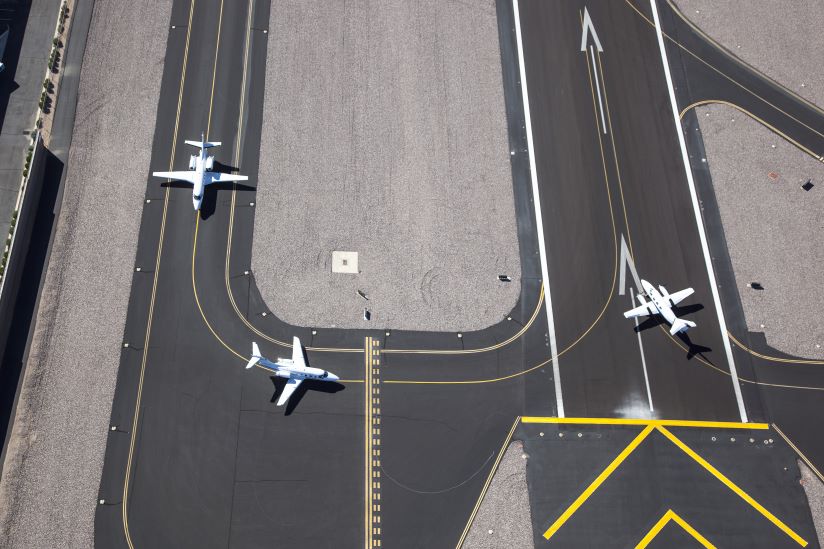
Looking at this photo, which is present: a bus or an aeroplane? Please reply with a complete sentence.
I can see an aeroplane in this picture.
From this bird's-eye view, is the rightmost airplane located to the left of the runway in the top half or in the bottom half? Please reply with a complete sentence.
The rightmost airplane located to the left of the runway is in the bottom half of the image.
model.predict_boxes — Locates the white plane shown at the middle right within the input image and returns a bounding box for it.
[623,280,698,335]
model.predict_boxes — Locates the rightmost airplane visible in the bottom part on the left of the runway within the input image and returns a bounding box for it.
[246,337,341,406]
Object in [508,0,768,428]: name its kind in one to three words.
runway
